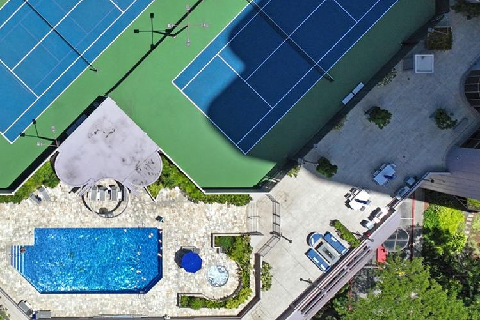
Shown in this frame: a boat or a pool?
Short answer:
pool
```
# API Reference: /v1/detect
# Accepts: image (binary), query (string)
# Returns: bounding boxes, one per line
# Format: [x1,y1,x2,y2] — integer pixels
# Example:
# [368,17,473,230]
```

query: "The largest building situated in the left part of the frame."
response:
[54,96,162,199]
